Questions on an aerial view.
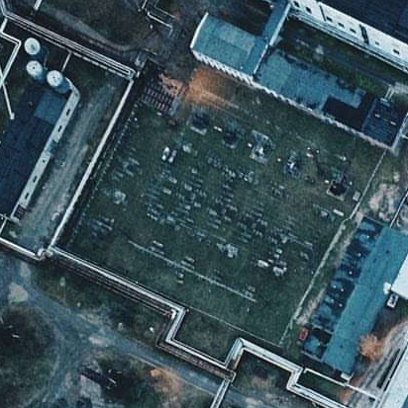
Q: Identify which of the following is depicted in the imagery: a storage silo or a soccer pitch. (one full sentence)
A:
Visible in the photo is a storage silo.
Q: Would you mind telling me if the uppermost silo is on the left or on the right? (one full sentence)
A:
The uppermost silo appears in the left half of the scene.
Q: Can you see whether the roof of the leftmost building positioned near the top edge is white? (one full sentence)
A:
No, the roof of the leftmost building positioned near the top edge is blue.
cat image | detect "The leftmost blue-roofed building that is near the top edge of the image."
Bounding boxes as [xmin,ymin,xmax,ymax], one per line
[192,14,258,79]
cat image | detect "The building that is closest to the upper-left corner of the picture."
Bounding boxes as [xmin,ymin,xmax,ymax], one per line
[0,90,73,218]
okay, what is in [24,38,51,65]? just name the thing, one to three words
silo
